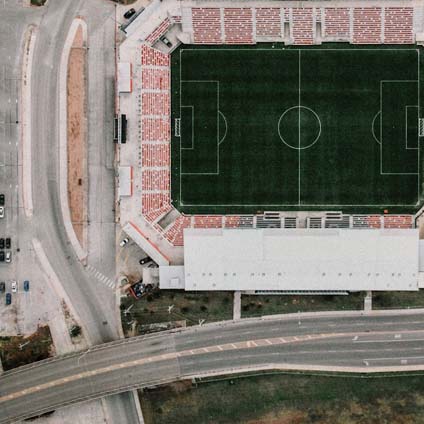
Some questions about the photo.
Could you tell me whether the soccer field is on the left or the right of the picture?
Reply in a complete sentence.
The soccer field appears in the right half of the scene.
